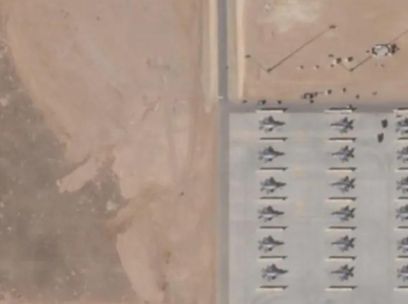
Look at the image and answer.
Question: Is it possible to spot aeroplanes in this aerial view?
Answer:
Yes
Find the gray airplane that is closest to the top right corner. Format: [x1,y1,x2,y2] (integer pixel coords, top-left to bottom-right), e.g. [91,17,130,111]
[395,118,408,134]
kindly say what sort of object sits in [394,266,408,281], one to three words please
airplane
